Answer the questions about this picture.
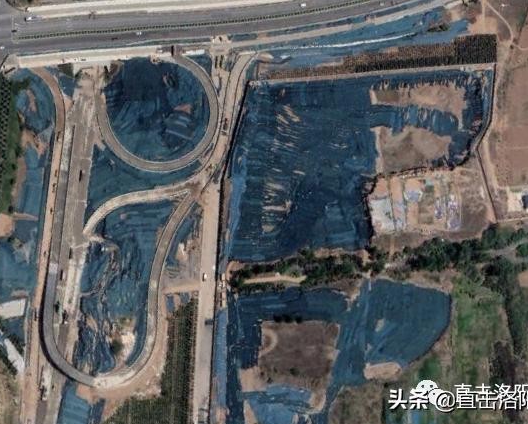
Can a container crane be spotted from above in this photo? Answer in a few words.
No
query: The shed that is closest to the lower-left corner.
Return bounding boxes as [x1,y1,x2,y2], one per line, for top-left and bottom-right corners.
[2,338,27,374]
